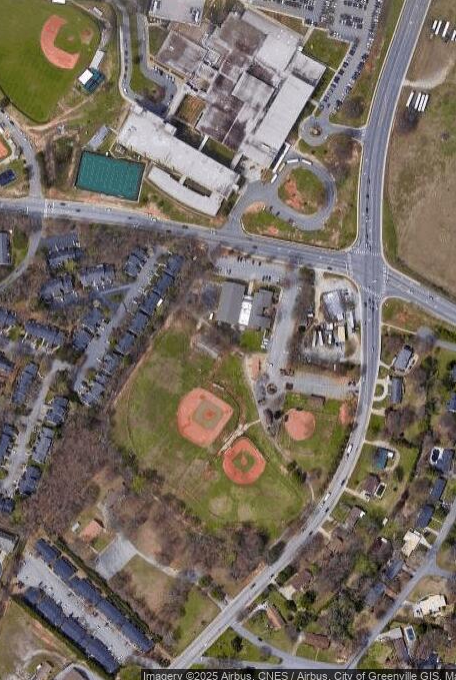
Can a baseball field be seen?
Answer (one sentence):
Yes, there's a baseball field here.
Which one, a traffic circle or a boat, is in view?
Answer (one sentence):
The one in the frame is a traffic circle.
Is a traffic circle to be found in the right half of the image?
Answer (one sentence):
Yes, a traffic circle is visible in the right half of the image.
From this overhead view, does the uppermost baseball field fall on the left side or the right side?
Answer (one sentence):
The uppermost baseball field is on the left side of the image.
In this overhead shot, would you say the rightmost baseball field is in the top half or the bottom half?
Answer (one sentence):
The bottom half of the photo is where the rightmost baseball field is.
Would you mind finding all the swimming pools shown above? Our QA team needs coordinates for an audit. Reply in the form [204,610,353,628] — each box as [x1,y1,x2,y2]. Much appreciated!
[375,483,387,498]
[403,624,417,644]
[430,446,441,464]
